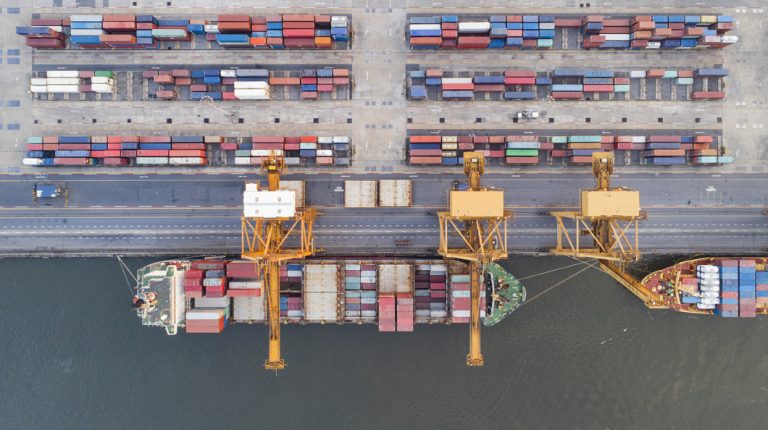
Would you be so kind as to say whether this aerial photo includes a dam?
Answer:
No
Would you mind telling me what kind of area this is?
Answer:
port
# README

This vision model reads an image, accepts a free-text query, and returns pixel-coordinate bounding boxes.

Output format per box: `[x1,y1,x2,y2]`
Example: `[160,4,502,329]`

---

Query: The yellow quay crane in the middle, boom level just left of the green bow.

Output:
[429,151,511,366]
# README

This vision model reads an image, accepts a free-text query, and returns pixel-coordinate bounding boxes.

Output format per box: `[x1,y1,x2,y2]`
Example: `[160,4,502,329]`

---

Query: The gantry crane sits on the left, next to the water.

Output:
[242,147,322,369]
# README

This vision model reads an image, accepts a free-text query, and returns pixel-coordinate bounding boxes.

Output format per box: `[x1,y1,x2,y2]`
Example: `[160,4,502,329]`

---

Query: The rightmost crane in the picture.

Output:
[537,151,667,308]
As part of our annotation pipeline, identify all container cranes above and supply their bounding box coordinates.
[242,147,322,369]
[537,151,667,308]
[429,151,511,366]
